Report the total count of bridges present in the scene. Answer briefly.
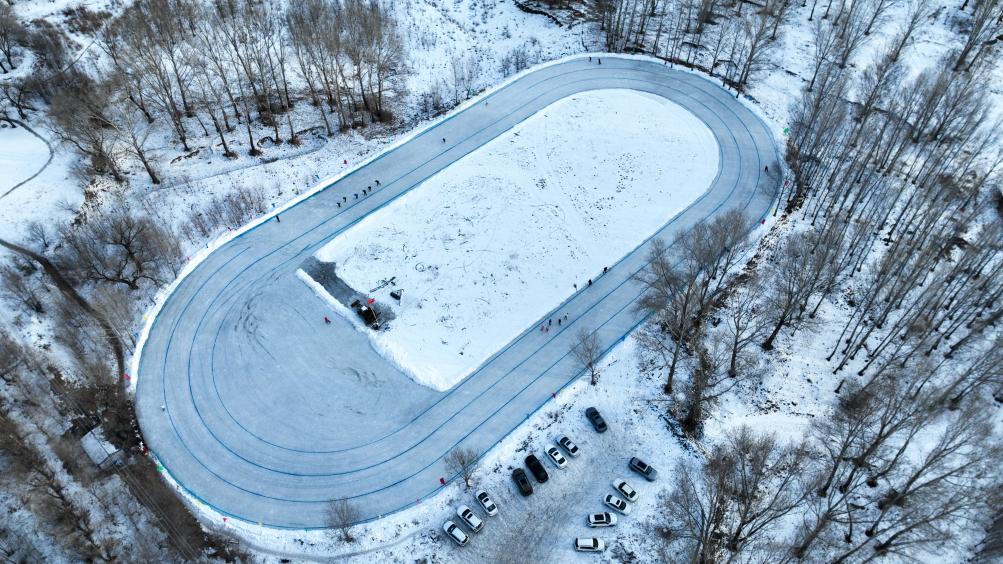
0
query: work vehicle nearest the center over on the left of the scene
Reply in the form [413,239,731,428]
[351,300,379,329]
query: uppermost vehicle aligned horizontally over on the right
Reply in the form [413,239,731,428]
[586,511,619,528]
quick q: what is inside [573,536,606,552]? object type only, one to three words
car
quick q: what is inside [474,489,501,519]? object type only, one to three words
car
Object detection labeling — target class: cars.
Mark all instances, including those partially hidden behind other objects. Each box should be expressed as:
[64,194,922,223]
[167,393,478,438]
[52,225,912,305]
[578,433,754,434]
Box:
[629,454,658,483]
[544,443,570,471]
[555,433,582,459]
[511,467,535,497]
[585,406,609,434]
[611,477,642,504]
[601,490,633,518]
[525,454,550,484]
[474,489,501,519]
[441,520,471,548]
[586,511,619,528]
[573,536,606,552]
[455,504,485,534]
